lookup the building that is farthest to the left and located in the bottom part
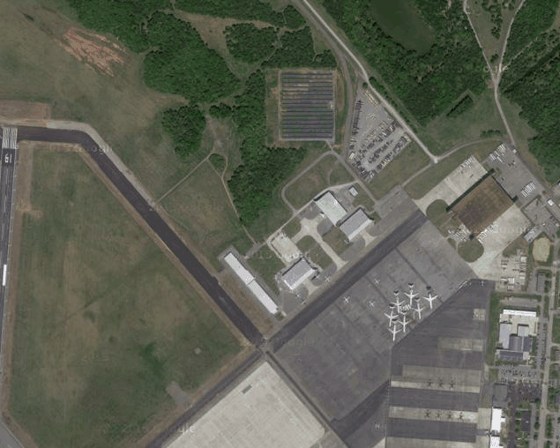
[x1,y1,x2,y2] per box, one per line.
[224,252,256,286]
